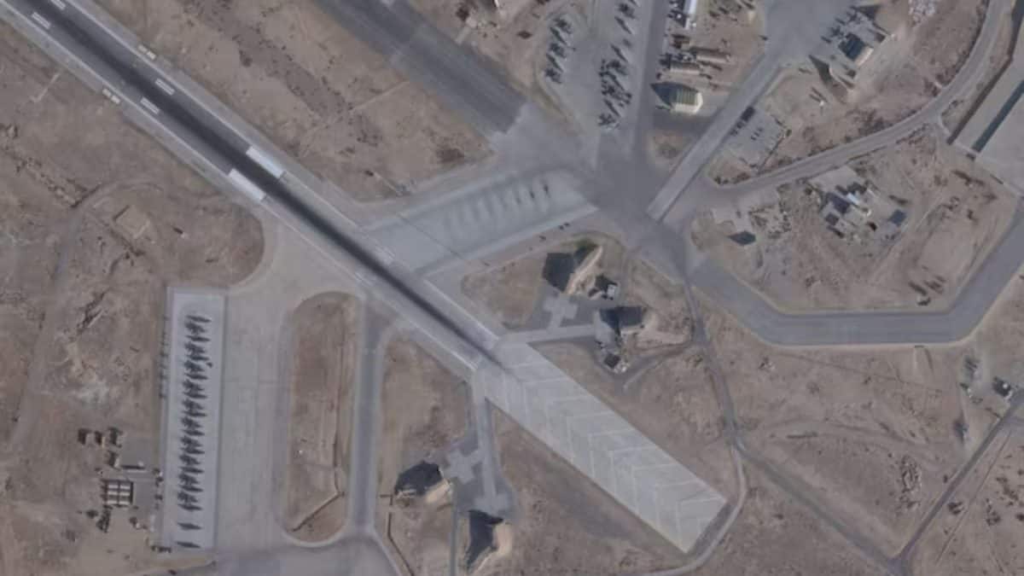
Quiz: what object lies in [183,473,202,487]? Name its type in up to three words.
airplane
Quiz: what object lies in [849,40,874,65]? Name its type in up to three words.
hangar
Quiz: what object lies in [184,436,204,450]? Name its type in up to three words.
airplane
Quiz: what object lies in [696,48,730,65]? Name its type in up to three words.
building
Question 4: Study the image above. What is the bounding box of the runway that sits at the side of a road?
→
[1,0,733,560]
